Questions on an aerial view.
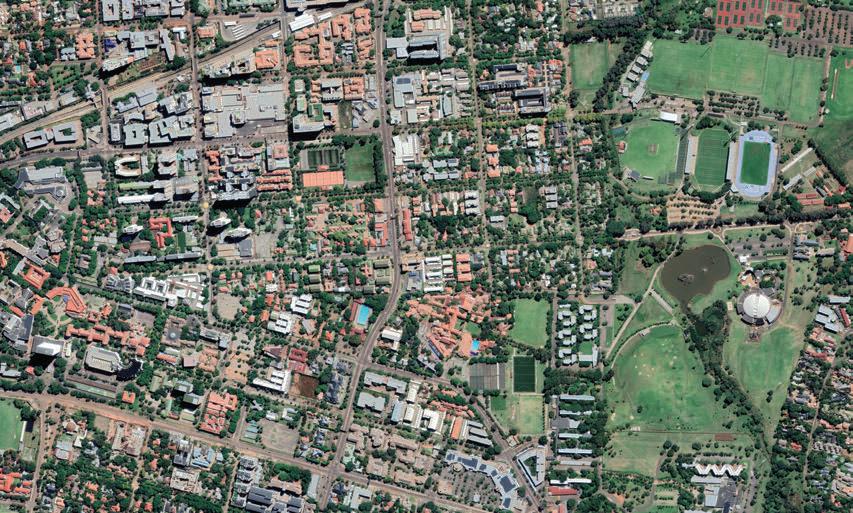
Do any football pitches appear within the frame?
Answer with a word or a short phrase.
Yes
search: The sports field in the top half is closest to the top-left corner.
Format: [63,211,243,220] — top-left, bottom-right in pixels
[345,143,374,180]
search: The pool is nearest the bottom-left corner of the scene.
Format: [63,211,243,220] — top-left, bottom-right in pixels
[355,302,372,327]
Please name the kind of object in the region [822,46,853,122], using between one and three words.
sports field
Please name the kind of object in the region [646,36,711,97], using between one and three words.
soccer field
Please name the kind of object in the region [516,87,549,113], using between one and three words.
building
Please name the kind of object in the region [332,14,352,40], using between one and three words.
building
